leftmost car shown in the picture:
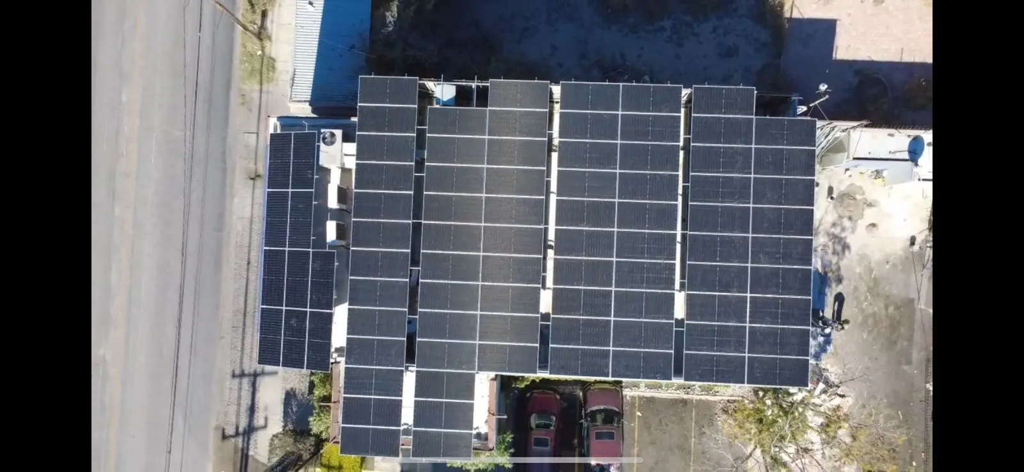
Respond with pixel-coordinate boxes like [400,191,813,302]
[522,389,564,472]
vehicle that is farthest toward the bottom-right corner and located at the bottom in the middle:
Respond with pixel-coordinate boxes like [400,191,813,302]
[580,381,627,472]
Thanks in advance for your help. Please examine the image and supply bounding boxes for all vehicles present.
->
[522,389,564,472]
[580,381,627,472]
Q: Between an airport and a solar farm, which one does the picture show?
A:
solar farm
